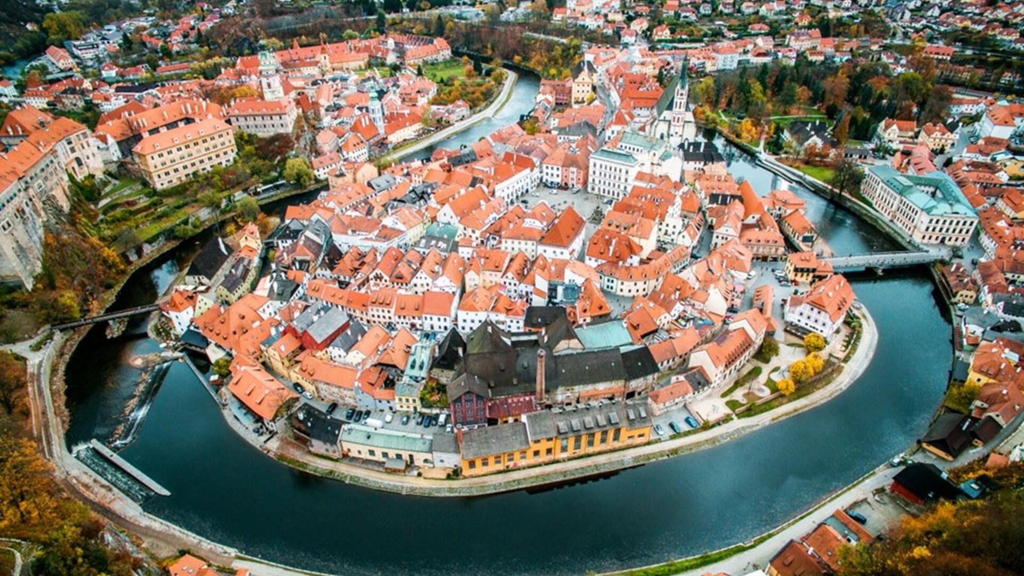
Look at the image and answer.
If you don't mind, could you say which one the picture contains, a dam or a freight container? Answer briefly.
dam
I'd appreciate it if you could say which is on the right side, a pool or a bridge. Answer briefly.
bridge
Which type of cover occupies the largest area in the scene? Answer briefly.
buildings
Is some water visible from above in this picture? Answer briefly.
Yes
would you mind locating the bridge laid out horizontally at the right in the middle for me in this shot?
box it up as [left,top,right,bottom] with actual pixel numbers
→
[817,246,963,278]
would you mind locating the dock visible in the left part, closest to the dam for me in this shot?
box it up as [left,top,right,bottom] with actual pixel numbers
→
[89,438,175,501]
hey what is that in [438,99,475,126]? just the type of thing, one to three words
house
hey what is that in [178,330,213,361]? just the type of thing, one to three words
house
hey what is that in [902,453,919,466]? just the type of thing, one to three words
vehicle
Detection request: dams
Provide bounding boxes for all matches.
[112,363,170,449]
